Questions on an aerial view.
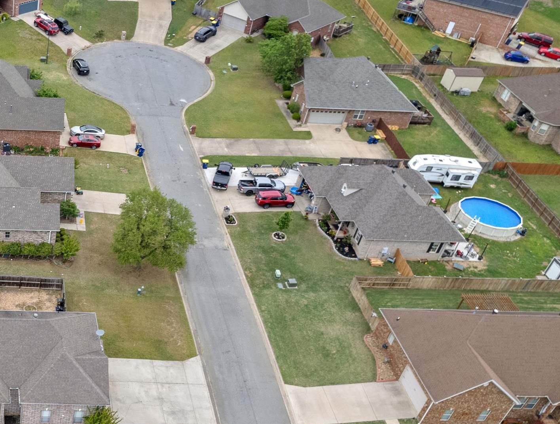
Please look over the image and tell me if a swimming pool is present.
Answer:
Yes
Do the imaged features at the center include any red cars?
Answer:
Yes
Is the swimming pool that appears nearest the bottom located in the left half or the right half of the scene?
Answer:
right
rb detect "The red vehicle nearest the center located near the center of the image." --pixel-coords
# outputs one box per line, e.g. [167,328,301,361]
[254,190,300,210]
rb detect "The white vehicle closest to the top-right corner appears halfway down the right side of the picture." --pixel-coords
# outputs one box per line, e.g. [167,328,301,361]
[405,150,491,185]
